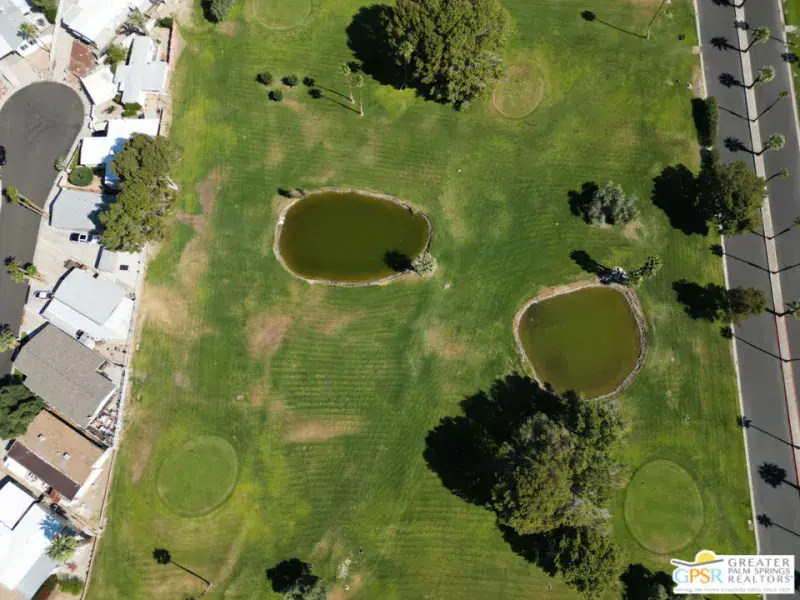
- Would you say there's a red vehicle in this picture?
No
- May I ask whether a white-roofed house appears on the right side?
No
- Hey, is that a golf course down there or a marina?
golf course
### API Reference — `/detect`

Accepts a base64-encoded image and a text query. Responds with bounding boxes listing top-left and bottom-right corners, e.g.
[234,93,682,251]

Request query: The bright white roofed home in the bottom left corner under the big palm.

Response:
[0,481,69,600]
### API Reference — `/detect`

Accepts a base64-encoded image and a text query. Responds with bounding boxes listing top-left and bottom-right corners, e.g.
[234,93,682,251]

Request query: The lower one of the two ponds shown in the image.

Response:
[516,279,648,405]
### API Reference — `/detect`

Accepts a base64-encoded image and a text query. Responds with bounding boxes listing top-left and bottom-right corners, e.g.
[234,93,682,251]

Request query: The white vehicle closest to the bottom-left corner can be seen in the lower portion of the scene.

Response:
[2,457,31,482]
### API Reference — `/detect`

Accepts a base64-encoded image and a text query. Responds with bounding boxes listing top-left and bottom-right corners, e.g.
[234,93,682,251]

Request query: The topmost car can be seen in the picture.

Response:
[66,27,90,46]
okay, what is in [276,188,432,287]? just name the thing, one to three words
pond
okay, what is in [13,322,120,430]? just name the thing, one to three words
house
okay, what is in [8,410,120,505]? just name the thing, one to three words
house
